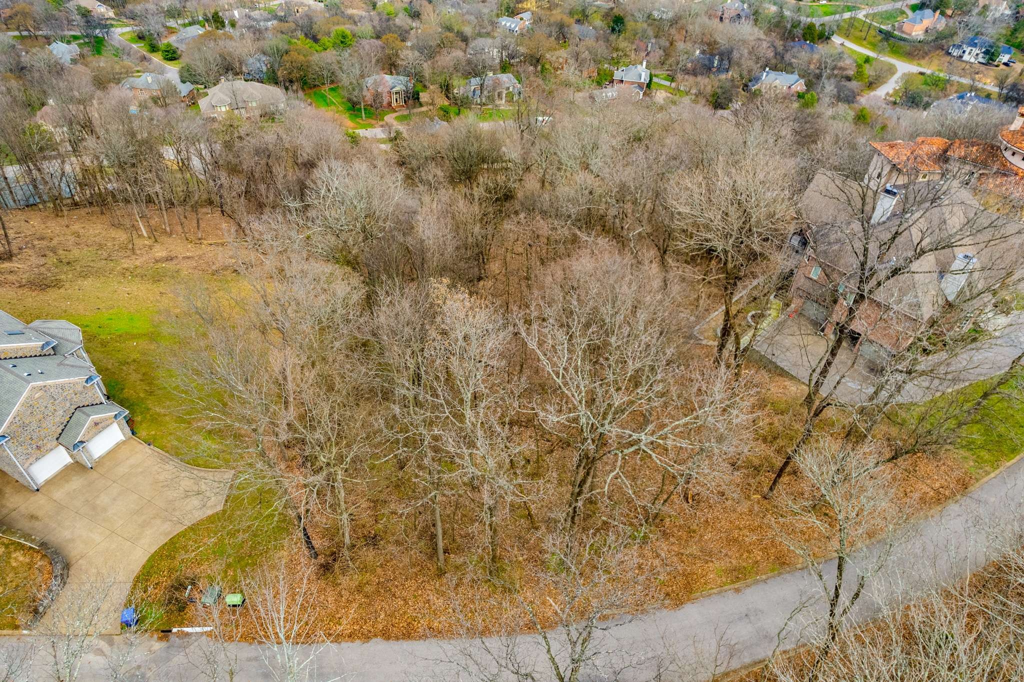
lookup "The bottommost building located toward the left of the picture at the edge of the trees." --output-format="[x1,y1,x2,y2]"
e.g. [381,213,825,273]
[0,300,141,491]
